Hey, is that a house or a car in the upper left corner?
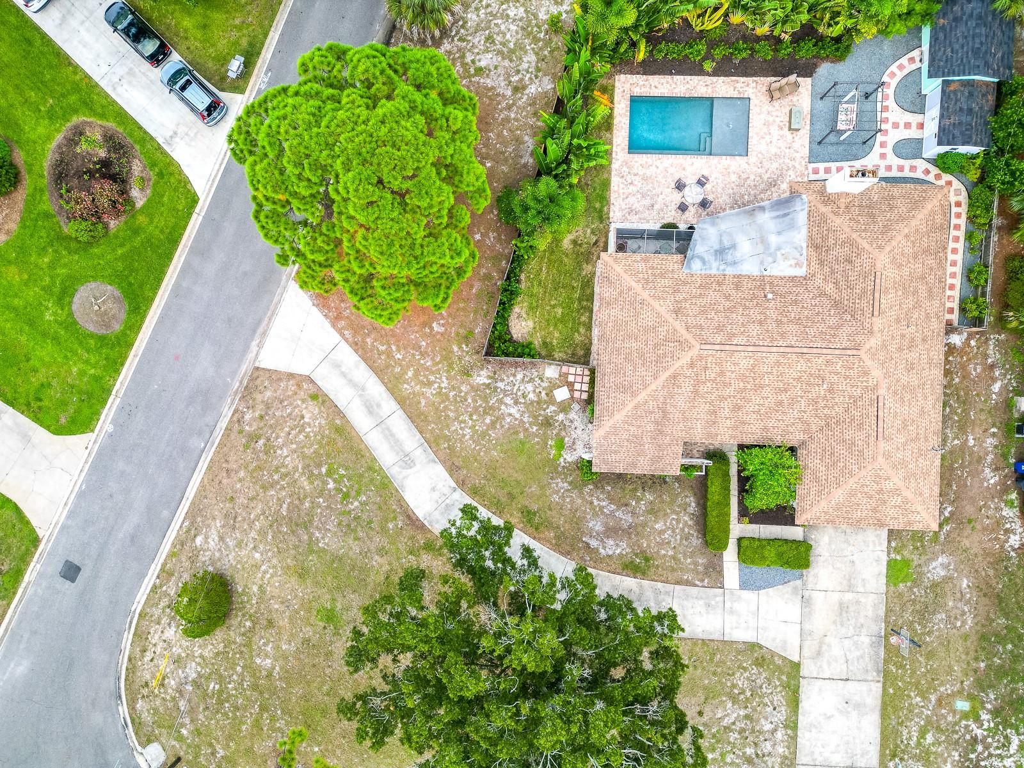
car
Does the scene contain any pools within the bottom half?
No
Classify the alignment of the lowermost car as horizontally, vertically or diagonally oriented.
diagonally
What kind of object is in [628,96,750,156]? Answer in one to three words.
swimming pool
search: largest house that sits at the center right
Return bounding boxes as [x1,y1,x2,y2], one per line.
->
[591,165,953,532]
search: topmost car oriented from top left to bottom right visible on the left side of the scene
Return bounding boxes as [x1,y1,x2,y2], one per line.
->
[100,0,174,73]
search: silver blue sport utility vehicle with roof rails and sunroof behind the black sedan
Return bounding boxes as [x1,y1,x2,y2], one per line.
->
[161,56,230,130]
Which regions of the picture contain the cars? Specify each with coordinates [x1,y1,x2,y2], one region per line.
[12,0,52,18]
[161,56,230,130]
[100,0,174,73]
